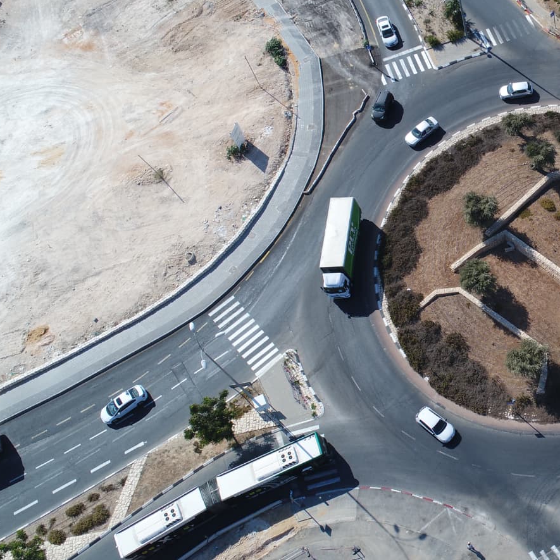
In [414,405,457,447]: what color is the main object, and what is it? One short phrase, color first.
white car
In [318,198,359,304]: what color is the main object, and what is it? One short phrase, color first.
white truck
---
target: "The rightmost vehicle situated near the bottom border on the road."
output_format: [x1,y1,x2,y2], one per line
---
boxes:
[113,428,331,560]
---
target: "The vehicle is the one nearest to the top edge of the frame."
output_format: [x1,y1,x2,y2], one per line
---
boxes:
[376,15,400,50]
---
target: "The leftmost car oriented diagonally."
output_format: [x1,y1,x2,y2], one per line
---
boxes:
[101,383,151,426]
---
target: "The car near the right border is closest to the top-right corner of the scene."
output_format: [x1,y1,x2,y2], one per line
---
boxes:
[498,81,535,101]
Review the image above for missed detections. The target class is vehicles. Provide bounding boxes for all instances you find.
[113,428,331,560]
[498,81,535,101]
[414,405,457,447]
[376,15,400,50]
[403,115,443,148]
[101,383,151,426]
[369,88,396,126]
[318,198,359,304]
